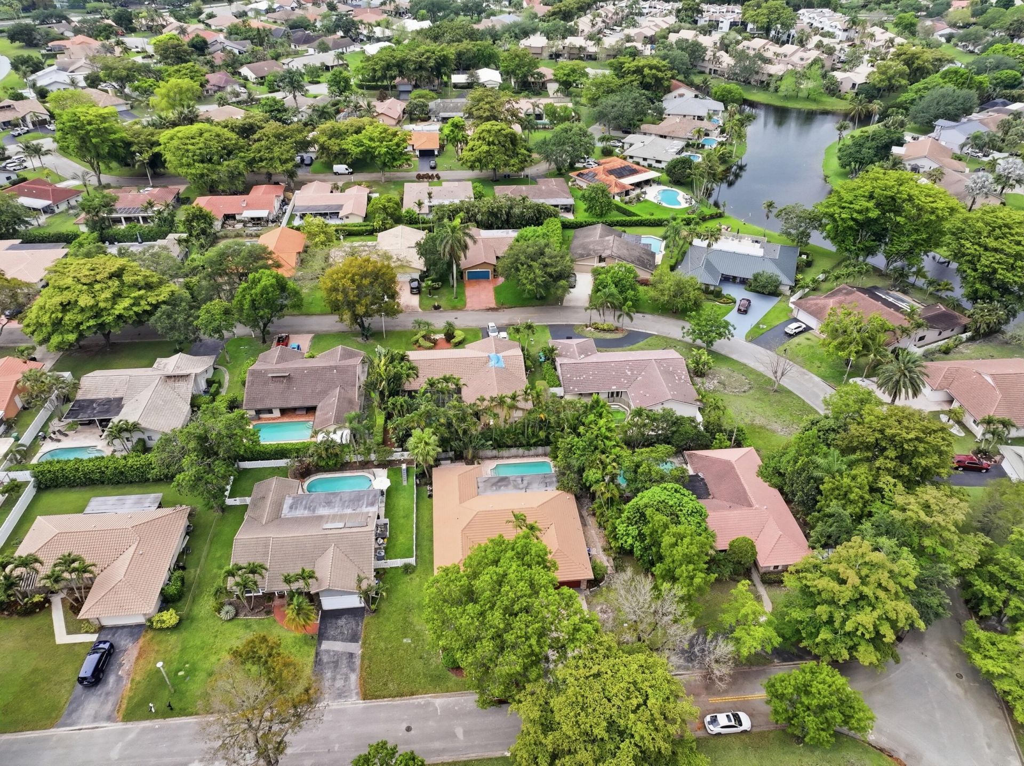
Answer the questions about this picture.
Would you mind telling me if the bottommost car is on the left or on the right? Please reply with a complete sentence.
You can find the bottommost car on the right side of the picture.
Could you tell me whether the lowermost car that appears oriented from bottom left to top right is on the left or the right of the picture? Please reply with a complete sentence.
It is on the left.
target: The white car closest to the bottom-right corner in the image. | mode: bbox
[704,708,755,736]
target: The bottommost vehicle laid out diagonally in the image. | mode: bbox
[74,640,112,682]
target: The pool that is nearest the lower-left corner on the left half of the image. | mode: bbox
[32,443,112,464]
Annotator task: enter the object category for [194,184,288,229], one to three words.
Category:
house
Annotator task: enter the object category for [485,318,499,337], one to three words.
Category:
car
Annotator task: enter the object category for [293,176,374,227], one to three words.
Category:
house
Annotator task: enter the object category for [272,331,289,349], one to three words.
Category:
vehicle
